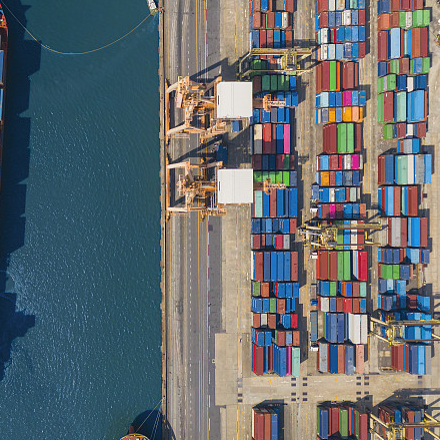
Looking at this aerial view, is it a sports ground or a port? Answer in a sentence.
What you see here is a port.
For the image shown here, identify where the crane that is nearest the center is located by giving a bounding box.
[166,152,282,224]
